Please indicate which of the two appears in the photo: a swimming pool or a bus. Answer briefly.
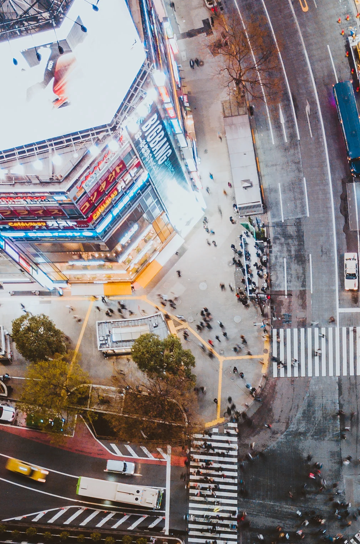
bus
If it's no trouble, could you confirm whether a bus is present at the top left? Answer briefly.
No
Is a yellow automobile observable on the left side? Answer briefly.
Yes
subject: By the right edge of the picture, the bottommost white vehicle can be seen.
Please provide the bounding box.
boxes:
[344,253,359,291]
